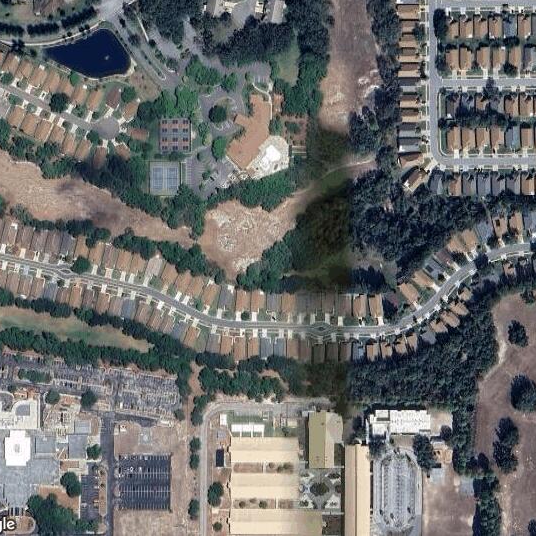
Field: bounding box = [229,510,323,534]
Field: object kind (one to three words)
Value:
building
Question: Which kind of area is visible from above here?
residential area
